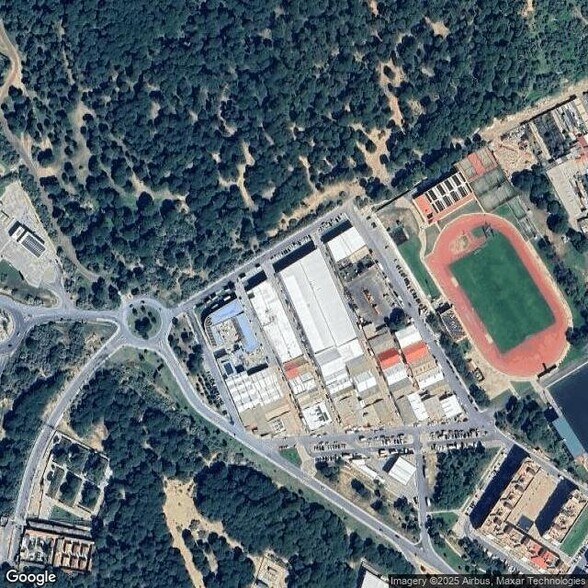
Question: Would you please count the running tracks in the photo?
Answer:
1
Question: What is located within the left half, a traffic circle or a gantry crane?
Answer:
traffic circle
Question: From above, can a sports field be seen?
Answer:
Yes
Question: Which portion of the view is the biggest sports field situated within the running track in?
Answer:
right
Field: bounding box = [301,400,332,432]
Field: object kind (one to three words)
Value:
building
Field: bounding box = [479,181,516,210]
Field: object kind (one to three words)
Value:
tennis court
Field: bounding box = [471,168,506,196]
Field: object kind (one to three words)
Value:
tennis court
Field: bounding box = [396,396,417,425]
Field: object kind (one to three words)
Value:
building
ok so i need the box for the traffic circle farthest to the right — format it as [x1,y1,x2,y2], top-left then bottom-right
[117,295,172,349]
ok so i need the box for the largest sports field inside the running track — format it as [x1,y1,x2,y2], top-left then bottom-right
[450,230,555,353]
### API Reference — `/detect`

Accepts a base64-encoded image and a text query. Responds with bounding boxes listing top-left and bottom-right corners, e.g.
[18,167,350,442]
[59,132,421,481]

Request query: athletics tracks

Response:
[423,212,571,378]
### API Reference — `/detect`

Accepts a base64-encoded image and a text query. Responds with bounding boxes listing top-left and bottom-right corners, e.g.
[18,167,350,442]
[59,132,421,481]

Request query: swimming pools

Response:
[516,514,535,533]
